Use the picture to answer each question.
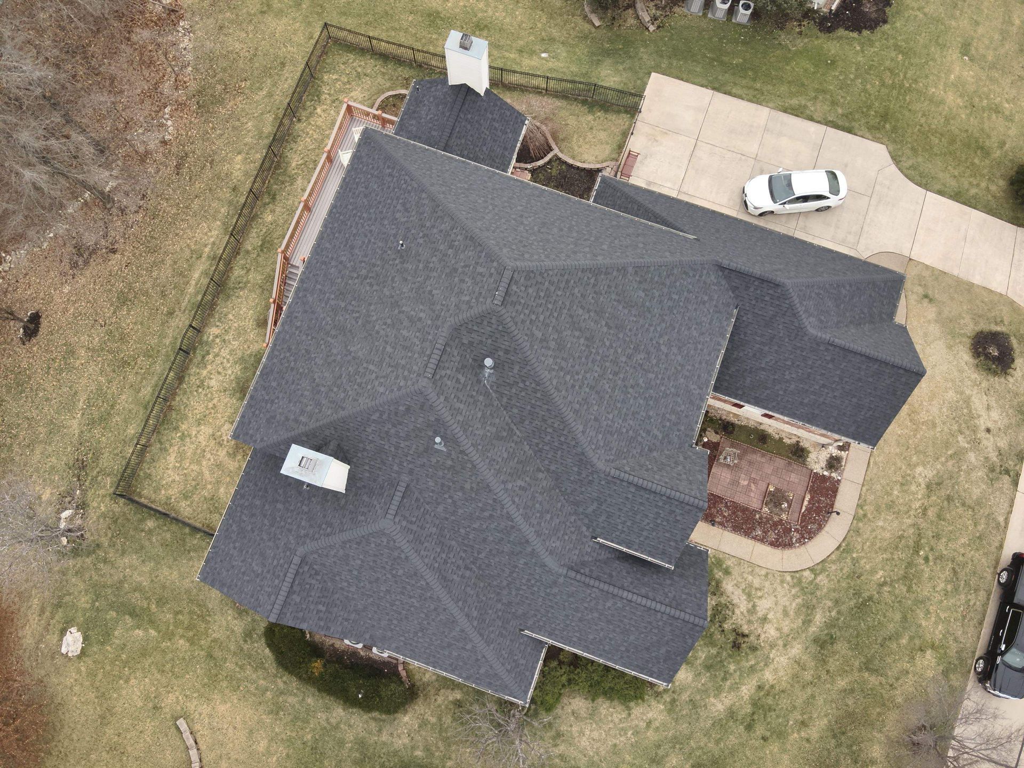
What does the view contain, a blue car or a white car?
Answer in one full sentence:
It is a white car that can be seen here.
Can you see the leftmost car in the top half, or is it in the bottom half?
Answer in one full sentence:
It is in the top half that the leftmost car appears.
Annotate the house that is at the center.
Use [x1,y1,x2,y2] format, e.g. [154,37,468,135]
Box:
[192,27,925,708]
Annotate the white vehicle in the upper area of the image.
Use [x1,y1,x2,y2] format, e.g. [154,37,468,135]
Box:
[741,167,846,217]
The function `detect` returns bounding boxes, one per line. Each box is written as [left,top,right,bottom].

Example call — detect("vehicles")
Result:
[741,167,846,217]
[971,550,1024,709]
